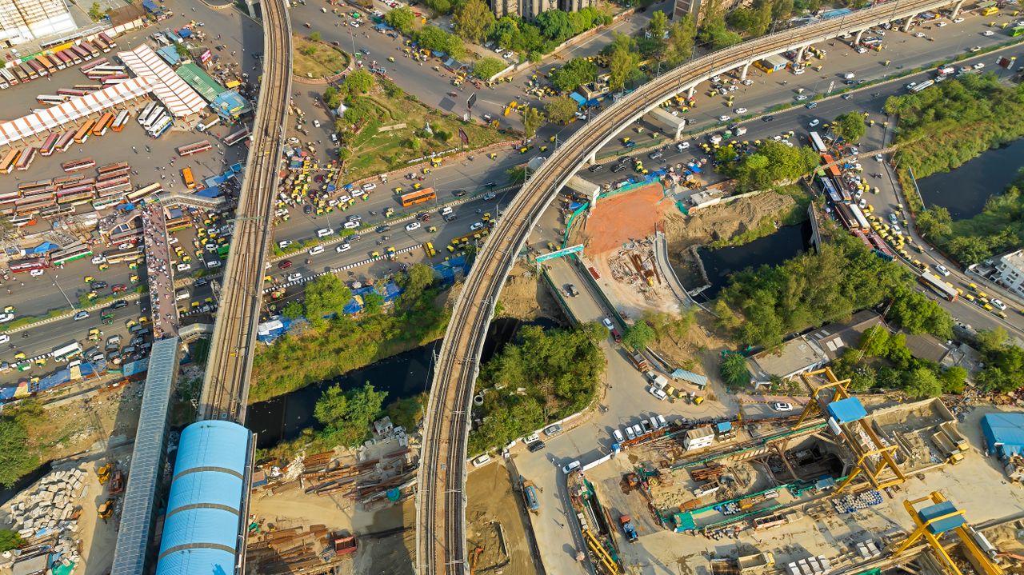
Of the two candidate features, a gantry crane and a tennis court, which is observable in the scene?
gantry crane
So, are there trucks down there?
Yes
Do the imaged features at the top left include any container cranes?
No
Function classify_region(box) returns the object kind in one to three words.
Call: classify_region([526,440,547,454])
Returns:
car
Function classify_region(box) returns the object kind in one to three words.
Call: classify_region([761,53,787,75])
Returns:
building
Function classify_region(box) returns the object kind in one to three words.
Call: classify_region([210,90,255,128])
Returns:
shed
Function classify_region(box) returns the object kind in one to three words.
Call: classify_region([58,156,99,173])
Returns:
vehicle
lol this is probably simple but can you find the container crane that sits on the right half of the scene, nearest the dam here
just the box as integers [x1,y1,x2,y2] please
[789,365,912,495]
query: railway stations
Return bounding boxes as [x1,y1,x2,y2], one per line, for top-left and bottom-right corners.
[152,419,267,575]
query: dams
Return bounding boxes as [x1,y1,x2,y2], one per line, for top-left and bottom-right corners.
[690,247,716,299]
